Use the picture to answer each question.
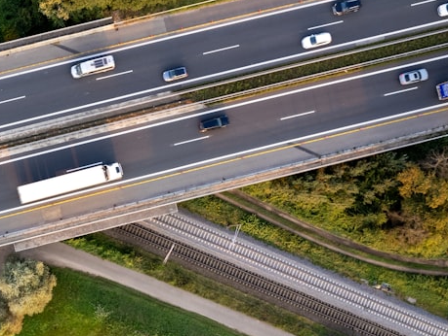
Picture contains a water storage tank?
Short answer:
No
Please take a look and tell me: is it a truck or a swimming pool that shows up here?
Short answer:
truck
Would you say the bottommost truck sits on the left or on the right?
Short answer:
left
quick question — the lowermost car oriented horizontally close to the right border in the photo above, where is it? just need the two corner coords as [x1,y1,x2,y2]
[396,68,426,84]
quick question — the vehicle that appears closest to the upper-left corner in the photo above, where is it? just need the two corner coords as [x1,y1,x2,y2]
[72,54,116,77]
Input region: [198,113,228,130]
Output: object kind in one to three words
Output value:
car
